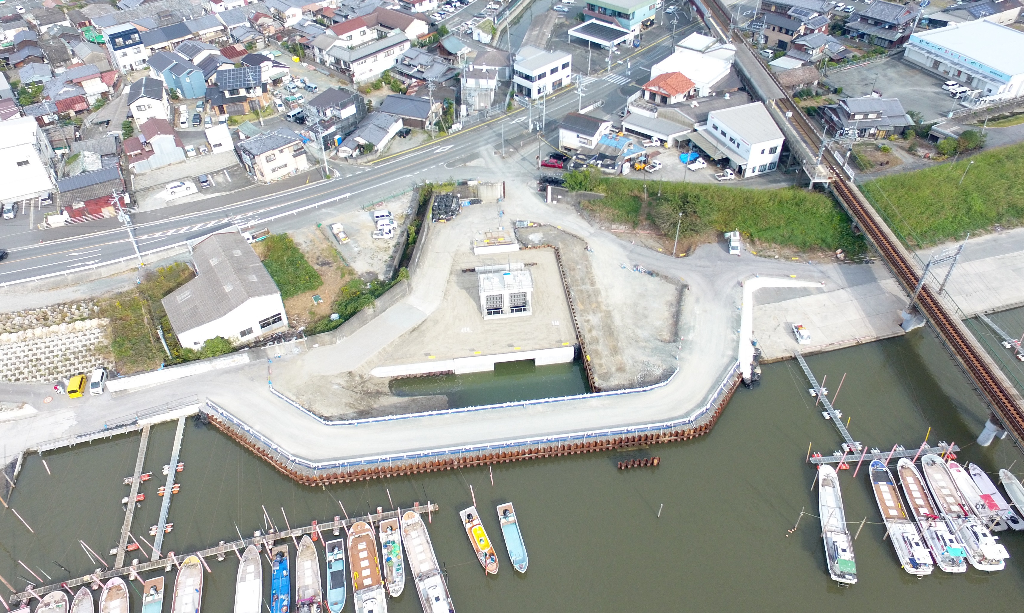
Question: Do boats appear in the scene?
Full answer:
Yes, the frame does contain a boat.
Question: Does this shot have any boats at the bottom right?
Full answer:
Yes, a boat can be seen at the bottom right.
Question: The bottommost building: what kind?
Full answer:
Specifically, the bottommost building is a warehouse.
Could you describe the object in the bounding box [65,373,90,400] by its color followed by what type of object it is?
yellow vehicle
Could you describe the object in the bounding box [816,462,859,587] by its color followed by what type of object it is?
white boat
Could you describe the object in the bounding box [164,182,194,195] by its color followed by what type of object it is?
white vehicle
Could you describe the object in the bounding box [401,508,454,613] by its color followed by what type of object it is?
white boat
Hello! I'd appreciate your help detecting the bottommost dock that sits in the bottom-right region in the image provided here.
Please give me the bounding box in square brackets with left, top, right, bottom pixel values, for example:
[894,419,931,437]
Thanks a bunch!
[808,440,964,467]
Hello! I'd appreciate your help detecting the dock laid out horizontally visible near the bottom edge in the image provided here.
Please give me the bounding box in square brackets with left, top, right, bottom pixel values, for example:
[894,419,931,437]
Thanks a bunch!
[8,501,439,607]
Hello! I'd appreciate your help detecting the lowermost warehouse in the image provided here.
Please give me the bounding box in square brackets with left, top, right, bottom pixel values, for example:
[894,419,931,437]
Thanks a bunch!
[161,232,289,349]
